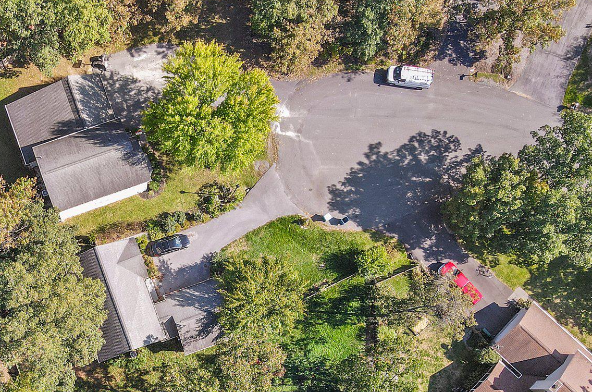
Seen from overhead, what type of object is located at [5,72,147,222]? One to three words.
house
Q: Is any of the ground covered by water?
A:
No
